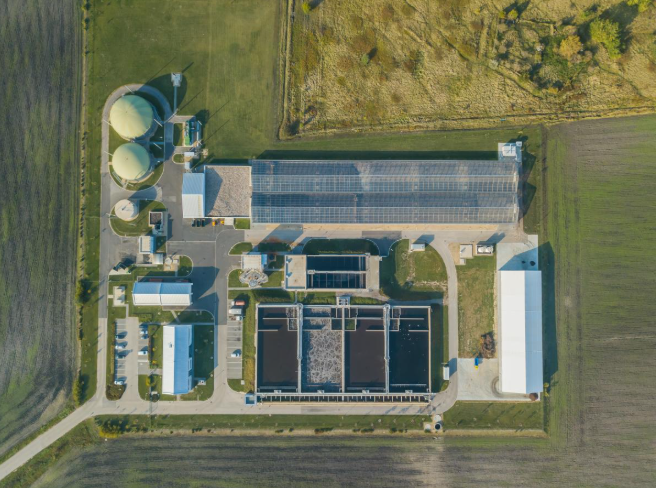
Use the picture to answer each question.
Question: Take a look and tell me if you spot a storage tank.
Yes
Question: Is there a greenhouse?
Yes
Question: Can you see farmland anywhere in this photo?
Yes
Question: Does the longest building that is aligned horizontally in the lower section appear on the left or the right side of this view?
left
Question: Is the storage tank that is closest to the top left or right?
left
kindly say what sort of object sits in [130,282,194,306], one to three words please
building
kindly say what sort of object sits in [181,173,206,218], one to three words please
building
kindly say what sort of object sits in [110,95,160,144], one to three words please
storage tank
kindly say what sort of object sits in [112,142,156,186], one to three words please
storage tank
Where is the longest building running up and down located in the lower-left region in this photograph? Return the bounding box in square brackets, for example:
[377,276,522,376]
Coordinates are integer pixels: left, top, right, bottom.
[162,323,193,396]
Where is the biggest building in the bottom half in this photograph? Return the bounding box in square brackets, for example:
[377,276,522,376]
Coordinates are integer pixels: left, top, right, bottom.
[498,271,543,394]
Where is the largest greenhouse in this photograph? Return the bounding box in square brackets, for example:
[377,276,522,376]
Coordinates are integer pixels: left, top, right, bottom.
[251,159,521,224]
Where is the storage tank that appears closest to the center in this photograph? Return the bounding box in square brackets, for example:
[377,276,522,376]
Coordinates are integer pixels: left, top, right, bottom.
[284,254,382,290]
